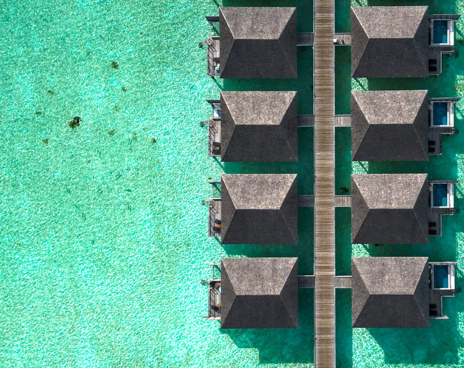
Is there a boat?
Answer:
No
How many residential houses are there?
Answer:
8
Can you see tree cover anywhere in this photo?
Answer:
No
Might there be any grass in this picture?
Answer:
No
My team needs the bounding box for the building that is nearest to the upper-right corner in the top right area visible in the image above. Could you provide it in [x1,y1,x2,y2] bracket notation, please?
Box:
[351,5,461,78]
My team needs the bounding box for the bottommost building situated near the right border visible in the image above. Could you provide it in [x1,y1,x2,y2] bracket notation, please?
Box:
[352,256,462,329]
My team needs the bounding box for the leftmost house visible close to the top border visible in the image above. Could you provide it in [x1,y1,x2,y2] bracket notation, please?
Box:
[201,6,297,79]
